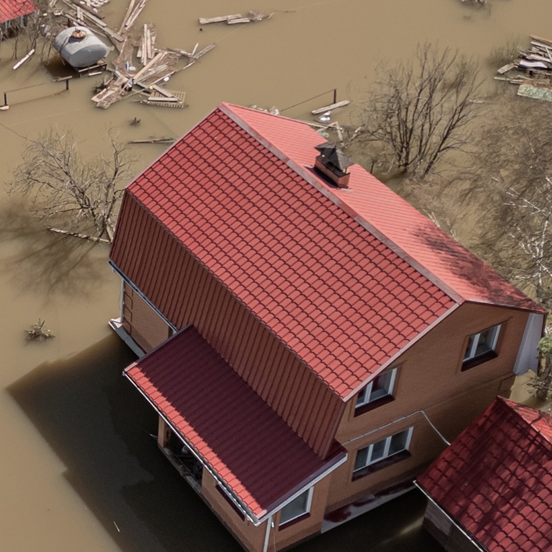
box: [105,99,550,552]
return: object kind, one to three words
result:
house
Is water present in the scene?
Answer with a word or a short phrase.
Yes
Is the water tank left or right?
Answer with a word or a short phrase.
left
